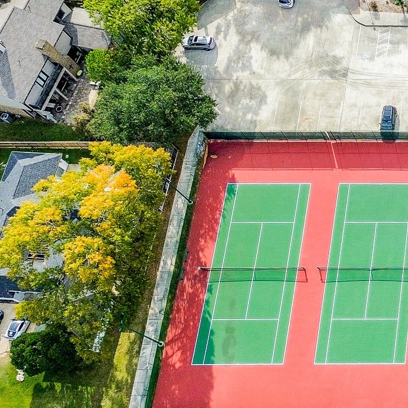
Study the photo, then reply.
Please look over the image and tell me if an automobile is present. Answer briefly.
Yes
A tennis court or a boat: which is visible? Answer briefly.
tennis court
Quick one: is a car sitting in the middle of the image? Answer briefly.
No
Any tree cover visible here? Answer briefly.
Yes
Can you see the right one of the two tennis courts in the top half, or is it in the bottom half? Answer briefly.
bottom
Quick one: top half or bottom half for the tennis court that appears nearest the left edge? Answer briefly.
bottom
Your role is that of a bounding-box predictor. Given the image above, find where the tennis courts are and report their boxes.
[152,140,329,408]
[294,141,408,408]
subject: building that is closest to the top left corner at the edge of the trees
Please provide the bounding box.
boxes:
[0,0,116,123]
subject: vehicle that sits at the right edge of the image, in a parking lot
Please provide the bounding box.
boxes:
[377,103,395,132]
